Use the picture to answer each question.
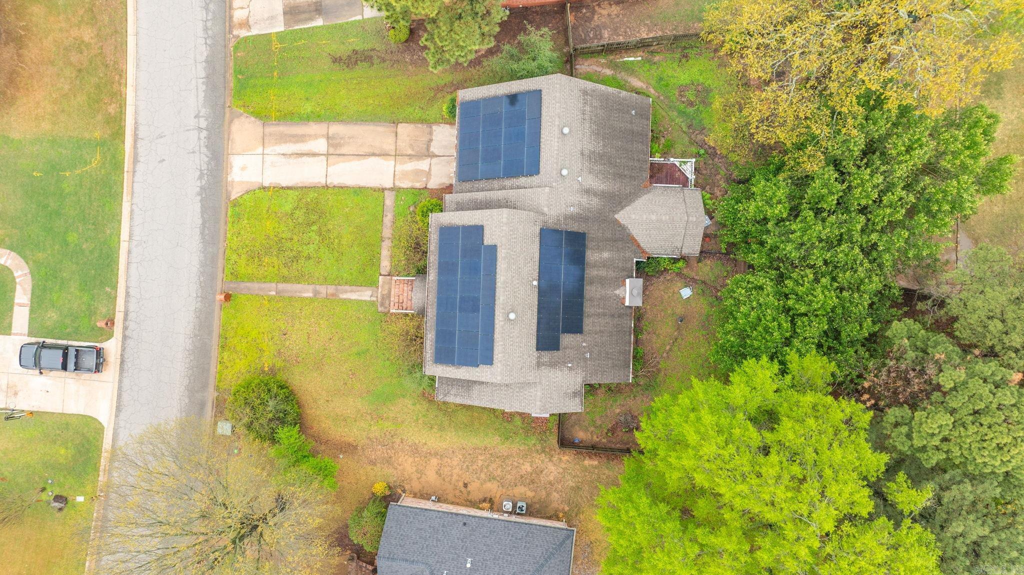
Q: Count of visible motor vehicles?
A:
1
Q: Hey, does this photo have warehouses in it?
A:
No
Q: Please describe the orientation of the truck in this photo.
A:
horizontally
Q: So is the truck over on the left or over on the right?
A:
left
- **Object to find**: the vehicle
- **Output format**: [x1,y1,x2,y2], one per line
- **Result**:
[19,338,105,376]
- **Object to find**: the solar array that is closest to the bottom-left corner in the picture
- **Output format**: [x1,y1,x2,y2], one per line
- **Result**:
[434,224,497,368]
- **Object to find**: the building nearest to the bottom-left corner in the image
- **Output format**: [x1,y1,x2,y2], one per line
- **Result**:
[376,486,577,575]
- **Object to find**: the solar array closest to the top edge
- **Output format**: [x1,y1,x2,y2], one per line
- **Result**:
[458,89,541,182]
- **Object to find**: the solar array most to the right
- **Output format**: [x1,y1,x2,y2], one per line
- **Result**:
[536,227,586,352]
